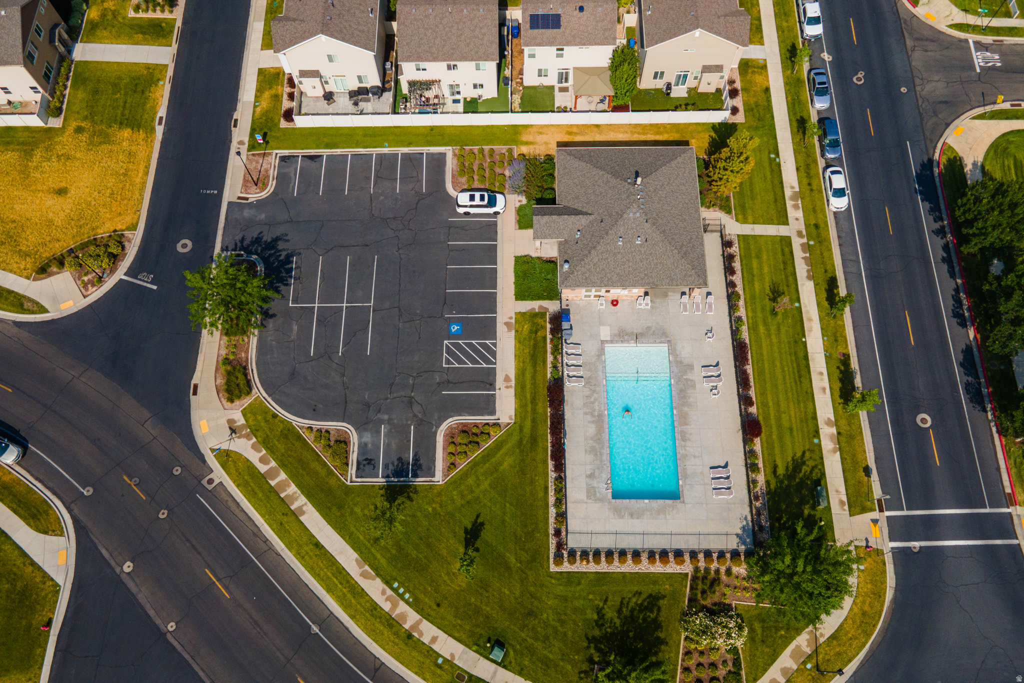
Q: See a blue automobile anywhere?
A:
Yes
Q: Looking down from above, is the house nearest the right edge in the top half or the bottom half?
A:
top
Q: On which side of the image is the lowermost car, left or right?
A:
left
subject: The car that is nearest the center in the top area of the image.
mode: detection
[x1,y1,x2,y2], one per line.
[457,191,505,216]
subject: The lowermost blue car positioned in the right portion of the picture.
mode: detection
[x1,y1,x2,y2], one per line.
[819,121,844,161]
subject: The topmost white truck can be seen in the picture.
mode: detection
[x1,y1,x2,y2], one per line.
[798,0,824,39]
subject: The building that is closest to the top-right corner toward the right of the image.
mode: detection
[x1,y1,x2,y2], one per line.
[635,0,753,92]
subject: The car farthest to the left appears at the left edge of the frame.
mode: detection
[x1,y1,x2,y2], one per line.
[0,432,26,466]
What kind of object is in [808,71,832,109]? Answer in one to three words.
car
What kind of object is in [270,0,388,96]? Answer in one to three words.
house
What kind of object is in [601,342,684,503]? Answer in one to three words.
swimming pool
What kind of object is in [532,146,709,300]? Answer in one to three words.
building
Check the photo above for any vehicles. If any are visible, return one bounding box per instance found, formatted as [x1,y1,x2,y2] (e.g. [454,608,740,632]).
[824,168,851,211]
[808,71,832,109]
[819,121,844,161]
[457,191,505,216]
[798,0,824,39]
[0,432,26,466]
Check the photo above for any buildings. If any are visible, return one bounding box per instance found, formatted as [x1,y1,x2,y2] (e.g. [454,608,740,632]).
[532,146,709,300]
[398,0,499,97]
[270,0,388,96]
[0,0,85,97]
[635,0,753,92]
[520,0,619,85]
